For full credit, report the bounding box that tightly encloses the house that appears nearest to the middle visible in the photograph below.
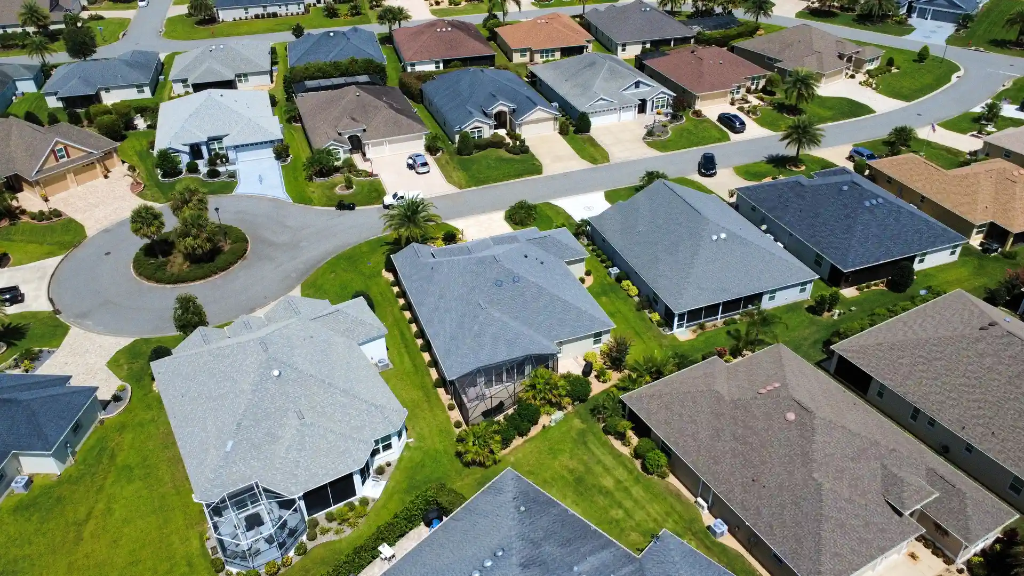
[390,227,617,425]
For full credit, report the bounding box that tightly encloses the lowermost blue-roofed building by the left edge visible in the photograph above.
[0,373,109,500]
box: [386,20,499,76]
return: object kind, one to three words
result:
house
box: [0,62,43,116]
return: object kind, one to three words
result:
house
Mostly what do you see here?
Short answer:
buildings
